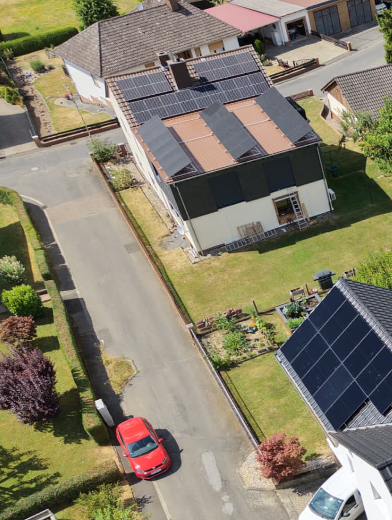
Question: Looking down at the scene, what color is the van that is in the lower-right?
white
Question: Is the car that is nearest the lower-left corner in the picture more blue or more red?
red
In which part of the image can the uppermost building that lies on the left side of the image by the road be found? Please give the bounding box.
[58,0,243,106]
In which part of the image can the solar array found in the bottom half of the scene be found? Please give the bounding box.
[284,285,392,432]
